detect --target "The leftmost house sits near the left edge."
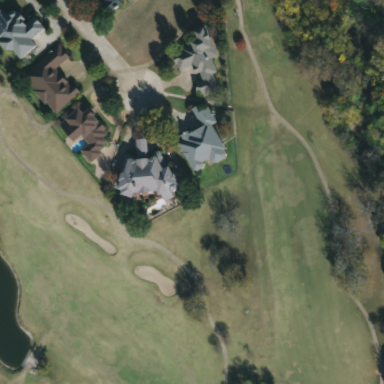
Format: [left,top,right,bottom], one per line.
[0,8,45,58]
